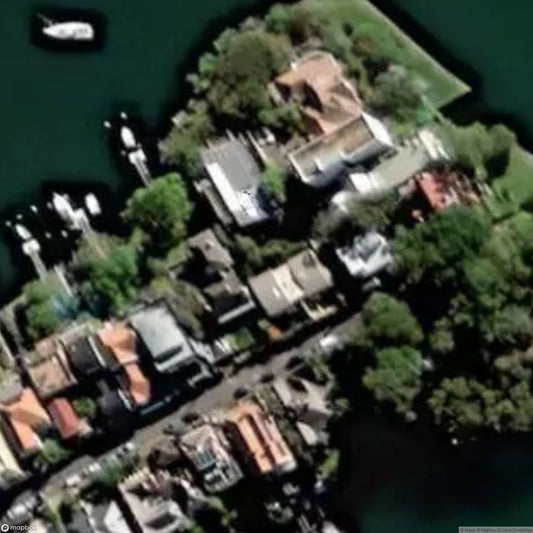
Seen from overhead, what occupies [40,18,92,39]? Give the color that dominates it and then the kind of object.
white boat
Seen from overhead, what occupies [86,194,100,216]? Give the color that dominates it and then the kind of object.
white boat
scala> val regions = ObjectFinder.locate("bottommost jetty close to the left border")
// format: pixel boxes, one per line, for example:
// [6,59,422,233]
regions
[22,239,48,280]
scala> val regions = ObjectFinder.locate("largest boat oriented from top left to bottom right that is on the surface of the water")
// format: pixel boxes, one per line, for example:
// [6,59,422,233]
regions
[54,194,76,222]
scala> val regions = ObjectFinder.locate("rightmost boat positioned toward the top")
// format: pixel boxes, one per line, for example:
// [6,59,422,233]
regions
[122,128,136,148]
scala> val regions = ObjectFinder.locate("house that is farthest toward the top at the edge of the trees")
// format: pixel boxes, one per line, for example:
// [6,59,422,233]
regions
[268,50,363,132]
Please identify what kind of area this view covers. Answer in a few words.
residential area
